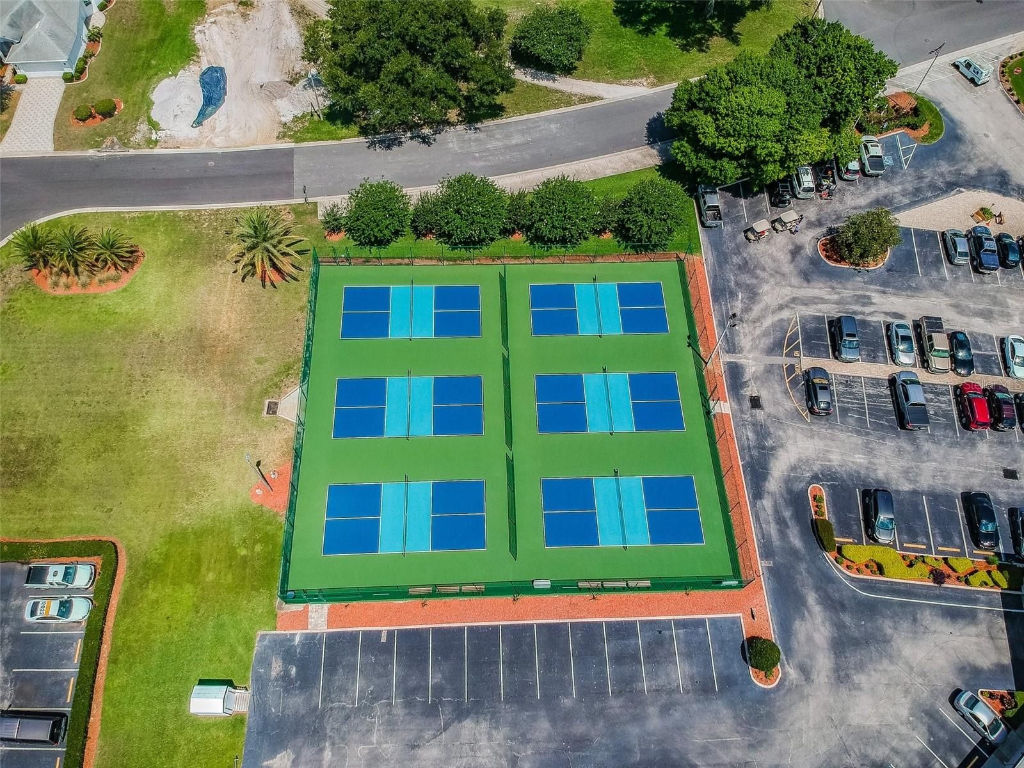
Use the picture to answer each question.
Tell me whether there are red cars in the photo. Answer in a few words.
Yes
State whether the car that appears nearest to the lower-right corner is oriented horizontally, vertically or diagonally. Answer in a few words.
diagonally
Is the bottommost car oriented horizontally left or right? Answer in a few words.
left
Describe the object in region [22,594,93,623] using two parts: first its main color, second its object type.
white car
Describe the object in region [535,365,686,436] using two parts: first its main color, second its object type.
blue sports court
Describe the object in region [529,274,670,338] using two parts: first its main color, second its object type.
blue sports court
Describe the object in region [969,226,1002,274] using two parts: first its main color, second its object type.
blue truck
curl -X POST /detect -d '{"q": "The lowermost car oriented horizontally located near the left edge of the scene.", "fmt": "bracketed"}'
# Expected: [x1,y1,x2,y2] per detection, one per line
[0,713,67,747]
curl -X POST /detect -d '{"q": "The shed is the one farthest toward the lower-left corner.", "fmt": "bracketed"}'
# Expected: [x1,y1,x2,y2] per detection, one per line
[184,689,255,725]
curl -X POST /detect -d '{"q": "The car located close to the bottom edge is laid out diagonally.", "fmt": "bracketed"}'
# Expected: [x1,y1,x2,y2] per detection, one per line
[950,686,1011,750]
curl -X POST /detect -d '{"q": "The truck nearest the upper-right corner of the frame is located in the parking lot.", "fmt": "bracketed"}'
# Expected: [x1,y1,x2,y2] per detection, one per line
[951,55,997,86]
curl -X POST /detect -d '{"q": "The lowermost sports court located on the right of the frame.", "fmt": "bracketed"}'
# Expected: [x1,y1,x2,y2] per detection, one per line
[541,469,705,550]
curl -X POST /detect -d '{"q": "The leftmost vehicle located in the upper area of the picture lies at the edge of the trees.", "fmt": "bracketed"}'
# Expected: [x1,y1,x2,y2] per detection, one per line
[698,182,725,224]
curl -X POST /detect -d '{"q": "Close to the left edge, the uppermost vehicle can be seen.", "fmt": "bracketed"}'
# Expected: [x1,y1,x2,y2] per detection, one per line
[20,560,98,590]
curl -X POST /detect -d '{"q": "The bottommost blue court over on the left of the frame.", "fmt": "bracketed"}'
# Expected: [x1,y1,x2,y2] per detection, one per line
[322,474,486,557]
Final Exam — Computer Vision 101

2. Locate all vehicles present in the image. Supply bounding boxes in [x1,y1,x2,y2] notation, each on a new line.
[22,594,93,623]
[868,489,901,543]
[20,560,98,590]
[1014,393,1024,438]
[805,367,832,416]
[698,182,725,224]
[834,314,863,363]
[746,219,774,243]
[0,713,67,747]
[792,158,816,197]
[861,134,886,175]
[948,331,977,377]
[1012,506,1024,556]
[895,371,932,429]
[984,385,1019,431]
[950,686,1011,750]
[994,232,1022,266]
[951,55,997,86]
[1004,334,1024,379]
[958,383,992,431]
[919,315,952,373]
[774,211,802,235]
[967,492,1003,550]
[969,226,1002,274]
[888,320,918,367]
[943,231,975,265]
[769,172,791,206]
[814,160,838,194]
